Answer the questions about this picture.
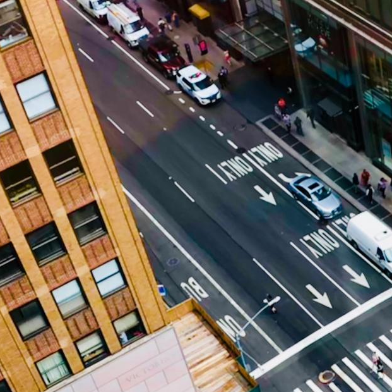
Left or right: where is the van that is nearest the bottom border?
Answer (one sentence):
The van that is nearest the bottom border is on the right side of the image.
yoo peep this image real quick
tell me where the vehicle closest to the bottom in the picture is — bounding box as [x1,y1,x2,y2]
[345,203,392,270]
